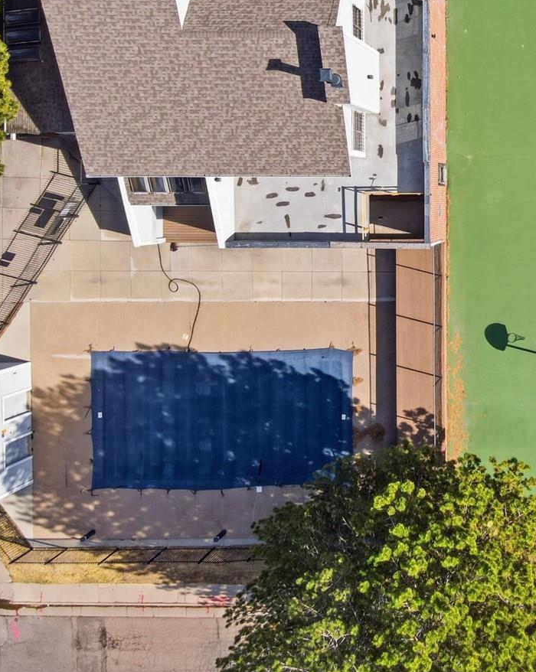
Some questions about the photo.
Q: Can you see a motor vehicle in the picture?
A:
No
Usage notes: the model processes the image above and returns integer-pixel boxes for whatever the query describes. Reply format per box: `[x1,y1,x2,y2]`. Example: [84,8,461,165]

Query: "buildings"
[39,0,446,252]
[0,361,35,496]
